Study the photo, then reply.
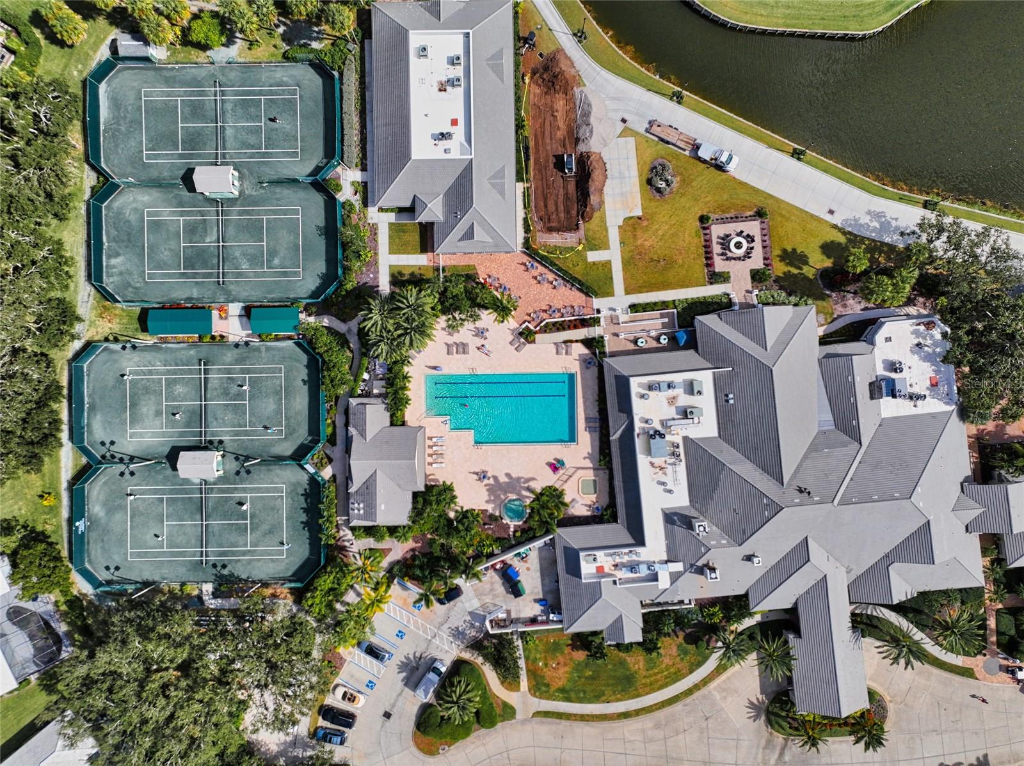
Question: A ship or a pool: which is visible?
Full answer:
The one in the frame is a pool.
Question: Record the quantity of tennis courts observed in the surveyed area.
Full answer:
In total, 4 tennis courts can be seen.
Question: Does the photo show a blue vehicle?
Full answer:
Yes, a blue vehicle is visible in the scene.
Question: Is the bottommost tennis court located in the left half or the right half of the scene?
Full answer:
The bottommost tennis court is on the left side of the image.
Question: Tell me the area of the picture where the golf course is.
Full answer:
The golf course sits in the top right section of the image.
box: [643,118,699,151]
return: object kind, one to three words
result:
trailer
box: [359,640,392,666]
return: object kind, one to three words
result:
car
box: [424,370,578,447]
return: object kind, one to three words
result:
swimming pool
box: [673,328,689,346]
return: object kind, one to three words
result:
umbrella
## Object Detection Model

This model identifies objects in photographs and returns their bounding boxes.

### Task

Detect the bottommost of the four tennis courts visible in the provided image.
[87,463,321,585]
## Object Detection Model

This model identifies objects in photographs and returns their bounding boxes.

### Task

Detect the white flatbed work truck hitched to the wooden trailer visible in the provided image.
[696,139,741,169]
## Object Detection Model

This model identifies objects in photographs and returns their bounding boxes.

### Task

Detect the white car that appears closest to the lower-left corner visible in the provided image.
[334,685,366,709]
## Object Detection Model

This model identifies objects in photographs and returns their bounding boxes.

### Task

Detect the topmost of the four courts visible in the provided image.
[101,64,335,183]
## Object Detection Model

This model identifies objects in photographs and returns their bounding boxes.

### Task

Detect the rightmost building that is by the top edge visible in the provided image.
[371,0,517,255]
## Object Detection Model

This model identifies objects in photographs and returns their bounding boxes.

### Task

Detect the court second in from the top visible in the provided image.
[103,182,336,302]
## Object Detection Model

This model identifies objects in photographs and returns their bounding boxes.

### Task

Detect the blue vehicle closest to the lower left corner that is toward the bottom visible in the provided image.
[315,725,347,747]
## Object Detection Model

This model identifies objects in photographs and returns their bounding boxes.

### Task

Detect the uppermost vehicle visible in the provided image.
[522,28,536,59]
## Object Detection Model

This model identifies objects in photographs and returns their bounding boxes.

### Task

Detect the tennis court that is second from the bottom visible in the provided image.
[85,342,320,463]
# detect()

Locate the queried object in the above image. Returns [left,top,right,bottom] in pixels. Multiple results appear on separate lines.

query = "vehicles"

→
[334,685,366,709]
[1010,668,1024,681]
[413,660,445,701]
[359,640,392,666]
[562,154,576,179]
[696,139,741,169]
[322,705,356,729]
[315,725,347,747]
[436,582,465,607]
[522,28,536,59]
